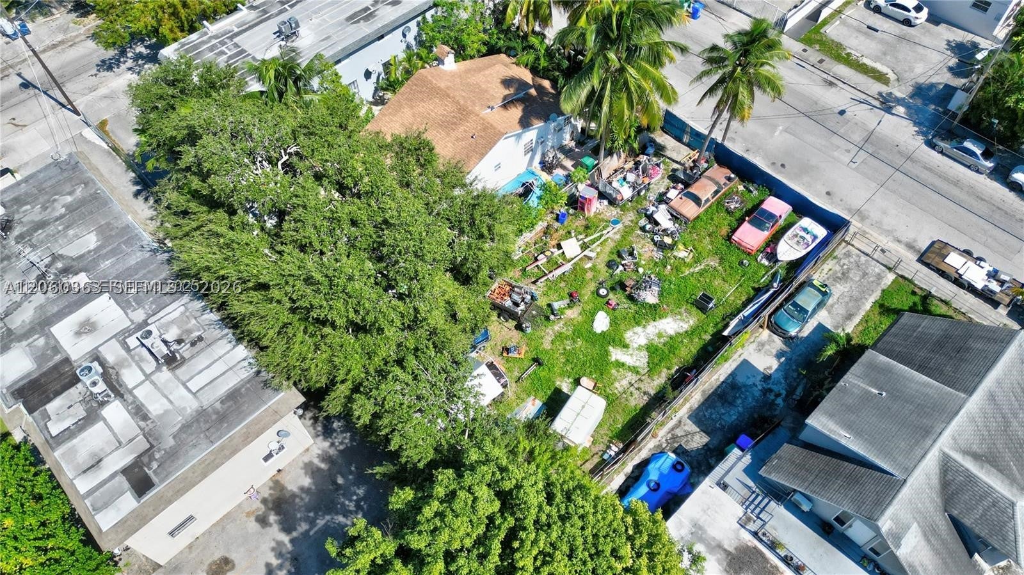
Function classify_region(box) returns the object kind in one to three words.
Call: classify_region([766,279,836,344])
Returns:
car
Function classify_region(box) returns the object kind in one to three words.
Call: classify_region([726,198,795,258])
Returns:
car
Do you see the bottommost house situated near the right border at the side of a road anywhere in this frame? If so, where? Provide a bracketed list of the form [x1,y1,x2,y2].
[762,307,1024,575]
